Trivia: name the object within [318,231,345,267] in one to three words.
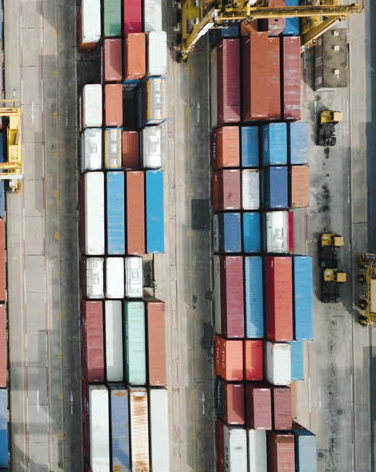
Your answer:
work vehicle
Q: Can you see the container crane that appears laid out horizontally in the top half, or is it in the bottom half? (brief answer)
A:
top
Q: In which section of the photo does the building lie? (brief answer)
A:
top right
